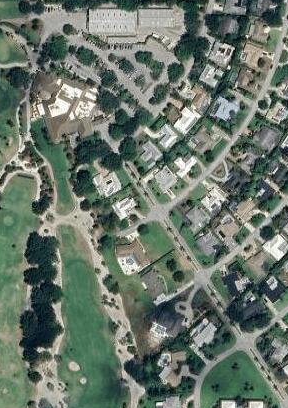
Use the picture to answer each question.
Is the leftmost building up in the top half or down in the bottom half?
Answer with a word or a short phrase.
top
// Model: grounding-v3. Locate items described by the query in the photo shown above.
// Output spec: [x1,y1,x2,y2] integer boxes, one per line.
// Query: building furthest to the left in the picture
[27,67,97,143]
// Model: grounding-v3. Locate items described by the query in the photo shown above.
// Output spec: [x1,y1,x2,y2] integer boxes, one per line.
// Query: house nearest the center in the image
[111,195,139,221]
